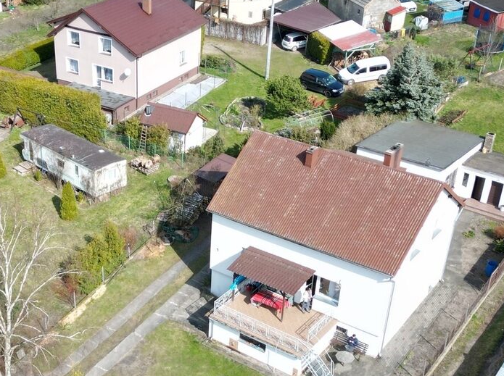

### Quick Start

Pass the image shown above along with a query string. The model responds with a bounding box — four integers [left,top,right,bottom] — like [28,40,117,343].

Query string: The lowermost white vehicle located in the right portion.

[343,55,388,83]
